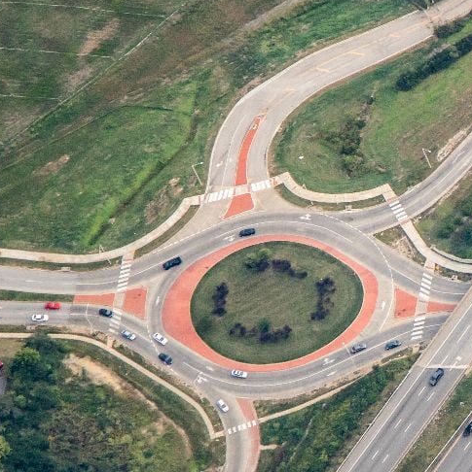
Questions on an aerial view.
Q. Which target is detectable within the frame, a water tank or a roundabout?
roundabout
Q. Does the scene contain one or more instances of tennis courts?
No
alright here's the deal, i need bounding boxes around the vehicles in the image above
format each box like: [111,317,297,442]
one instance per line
[121,329,136,340]
[350,343,367,352]
[217,399,228,413]
[384,341,400,350]
[231,371,246,377]
[157,352,172,364]
[429,368,445,385]
[153,333,168,344]
[164,257,179,268]
[98,308,113,317]
[463,422,472,436]
[239,227,254,236]
[44,301,60,309]
[32,315,48,322]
